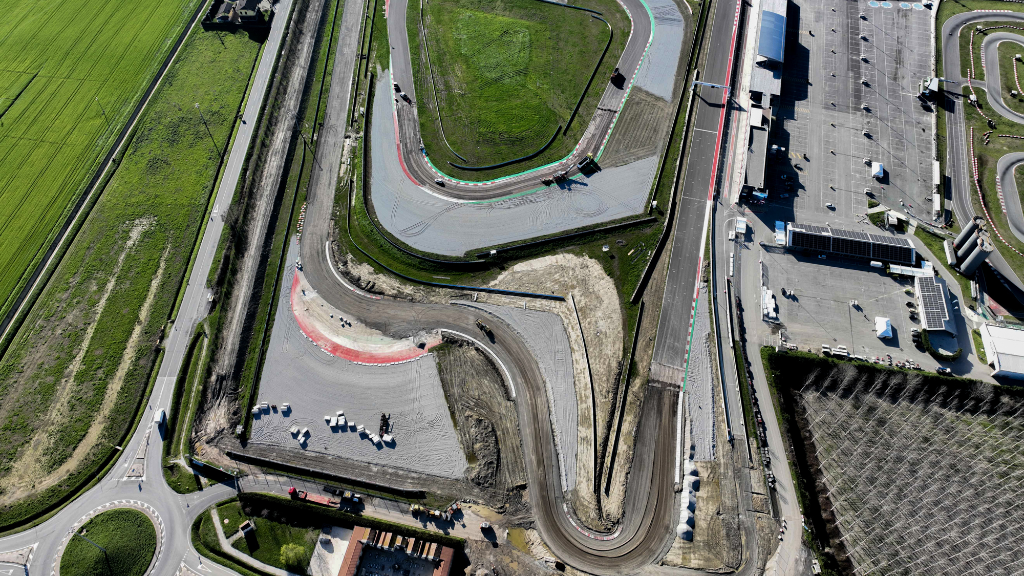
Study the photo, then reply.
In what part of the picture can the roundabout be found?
bottom left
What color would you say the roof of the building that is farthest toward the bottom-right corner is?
white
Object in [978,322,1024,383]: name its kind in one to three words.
building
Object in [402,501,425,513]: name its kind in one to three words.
vehicle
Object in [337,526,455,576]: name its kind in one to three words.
building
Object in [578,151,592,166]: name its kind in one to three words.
vehicle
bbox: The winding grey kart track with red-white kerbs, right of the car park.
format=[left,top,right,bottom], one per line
[942,10,1024,330]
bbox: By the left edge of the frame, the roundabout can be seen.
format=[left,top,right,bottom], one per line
[45,500,169,576]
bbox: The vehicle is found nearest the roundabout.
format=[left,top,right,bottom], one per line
[151,409,167,432]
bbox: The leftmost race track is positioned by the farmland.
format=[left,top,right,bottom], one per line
[291,0,763,575]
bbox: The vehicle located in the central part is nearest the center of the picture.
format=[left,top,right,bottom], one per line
[475,317,490,331]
